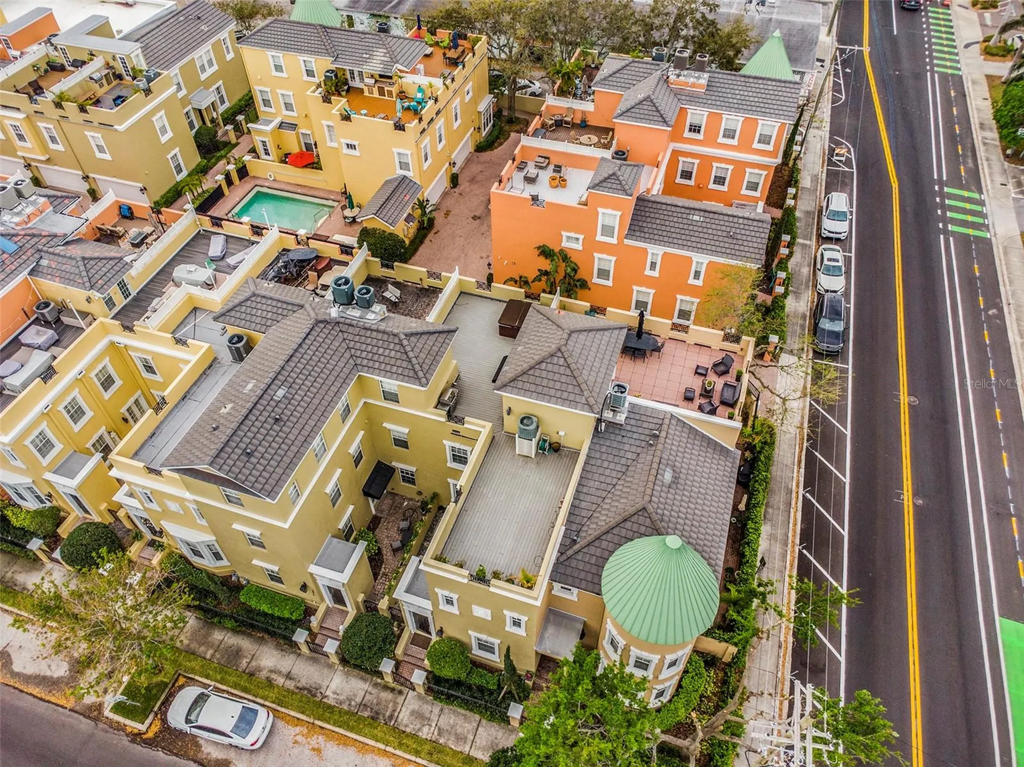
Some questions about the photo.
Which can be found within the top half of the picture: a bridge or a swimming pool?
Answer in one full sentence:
You can see a swimming pool within the top half of the picture.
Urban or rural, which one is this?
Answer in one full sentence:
The area is urban.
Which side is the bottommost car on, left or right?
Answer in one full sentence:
You can find the bottommost car on the left side of the picture.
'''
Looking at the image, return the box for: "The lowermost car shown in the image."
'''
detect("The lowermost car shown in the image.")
[162,685,273,756]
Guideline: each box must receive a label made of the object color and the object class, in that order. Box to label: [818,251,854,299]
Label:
white car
